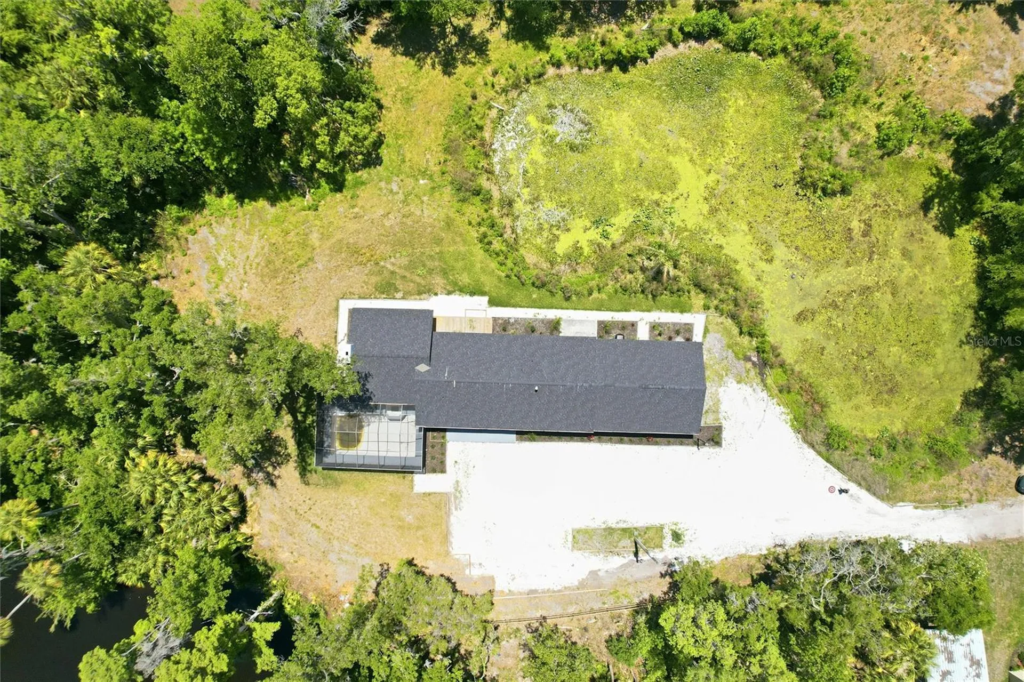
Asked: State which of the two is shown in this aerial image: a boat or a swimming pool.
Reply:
swimming pool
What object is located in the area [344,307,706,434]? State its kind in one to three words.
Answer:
house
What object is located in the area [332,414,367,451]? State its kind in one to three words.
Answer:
swimming pool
